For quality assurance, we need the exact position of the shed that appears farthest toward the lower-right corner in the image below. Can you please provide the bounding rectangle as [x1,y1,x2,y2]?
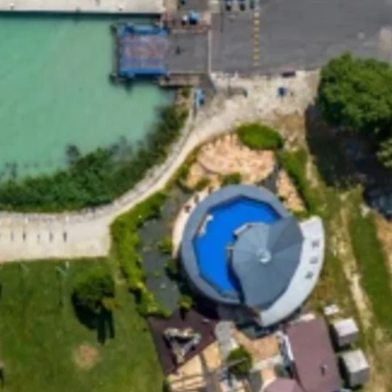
[338,349,369,387]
